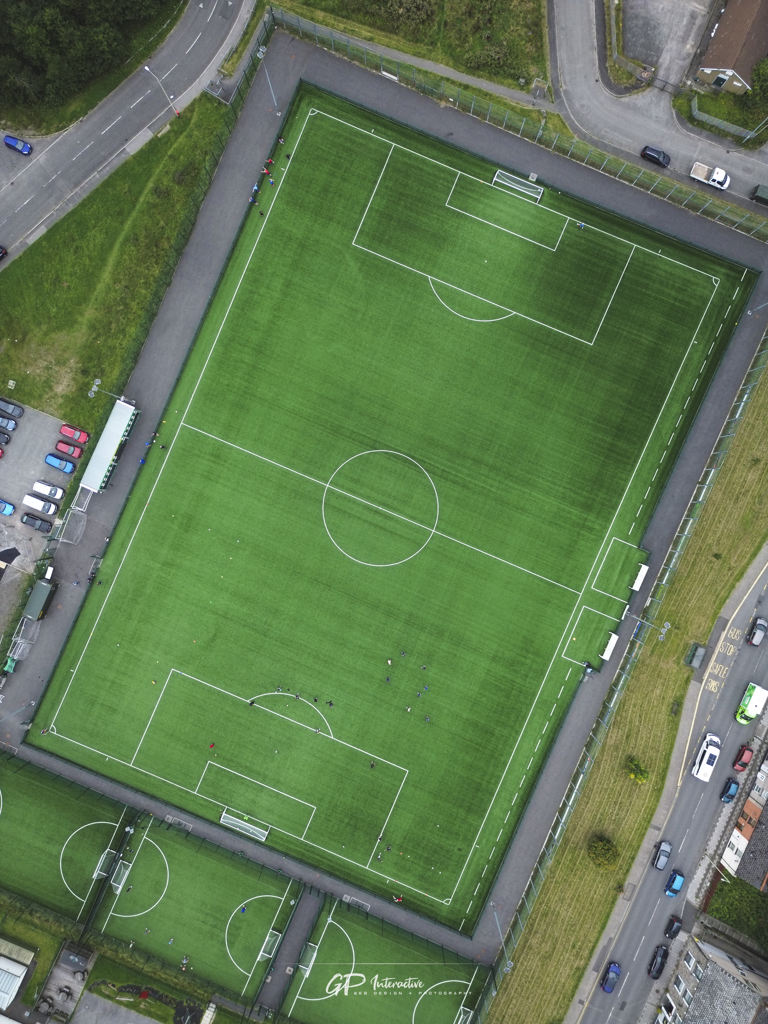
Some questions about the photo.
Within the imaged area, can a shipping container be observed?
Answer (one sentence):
Yes, a shipping container is visible in the scene.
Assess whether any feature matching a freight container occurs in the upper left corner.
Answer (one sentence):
No, there's no freight container to be seen in the upper left corner.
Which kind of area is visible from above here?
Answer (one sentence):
The picture captures a sports ground.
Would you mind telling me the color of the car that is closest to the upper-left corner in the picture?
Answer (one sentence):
From above, the car that is closest to the upper-left corner appears blue.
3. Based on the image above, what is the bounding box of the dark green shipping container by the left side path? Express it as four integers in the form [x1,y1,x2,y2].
[22,578,59,621]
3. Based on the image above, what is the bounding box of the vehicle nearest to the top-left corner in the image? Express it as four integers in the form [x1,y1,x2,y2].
[3,134,34,156]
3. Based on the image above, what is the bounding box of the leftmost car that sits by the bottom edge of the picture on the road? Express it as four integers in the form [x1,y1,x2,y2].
[601,961,619,992]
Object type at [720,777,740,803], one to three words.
car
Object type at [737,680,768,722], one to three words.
van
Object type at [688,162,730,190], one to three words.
truck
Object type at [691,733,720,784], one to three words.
vehicle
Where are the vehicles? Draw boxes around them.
[733,745,753,771]
[44,453,76,473]
[58,423,90,444]
[21,493,58,515]
[0,414,17,431]
[0,397,25,416]
[652,840,670,871]
[737,680,768,722]
[664,870,684,896]
[3,134,34,156]
[0,429,11,444]
[664,914,683,939]
[0,244,10,263]
[639,145,671,169]
[691,733,720,784]
[747,618,766,646]
[648,946,668,979]
[601,961,619,992]
[54,439,84,458]
[0,500,16,516]
[720,777,740,803]
[688,162,730,190]
[33,479,65,500]
[20,512,52,533]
